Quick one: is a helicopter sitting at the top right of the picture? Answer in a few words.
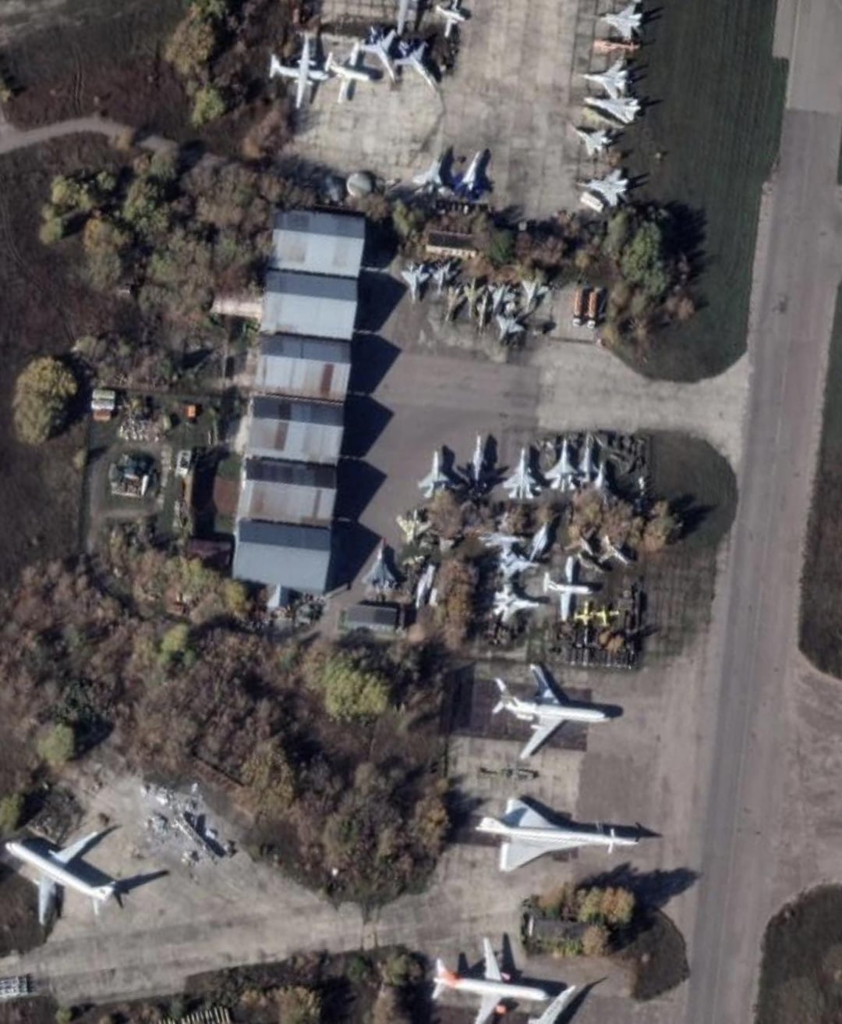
No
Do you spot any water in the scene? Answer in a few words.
No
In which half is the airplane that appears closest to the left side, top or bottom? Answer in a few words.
bottom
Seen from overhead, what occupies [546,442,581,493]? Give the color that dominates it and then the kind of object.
white airplane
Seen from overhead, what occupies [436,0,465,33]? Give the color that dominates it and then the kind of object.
white airplane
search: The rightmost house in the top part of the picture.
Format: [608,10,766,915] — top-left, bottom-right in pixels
[426,230,478,256]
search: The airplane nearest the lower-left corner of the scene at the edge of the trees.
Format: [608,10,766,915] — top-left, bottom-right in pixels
[6,833,115,918]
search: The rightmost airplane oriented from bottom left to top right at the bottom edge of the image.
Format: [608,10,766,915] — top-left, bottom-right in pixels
[519,981,578,1024]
